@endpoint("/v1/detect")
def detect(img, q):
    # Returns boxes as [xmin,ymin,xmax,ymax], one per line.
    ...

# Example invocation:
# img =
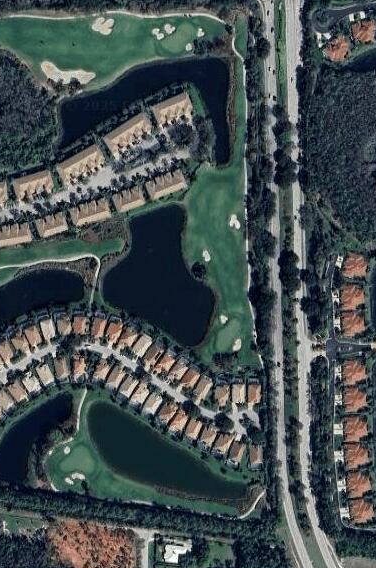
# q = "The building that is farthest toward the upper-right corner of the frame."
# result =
[351,18,375,42]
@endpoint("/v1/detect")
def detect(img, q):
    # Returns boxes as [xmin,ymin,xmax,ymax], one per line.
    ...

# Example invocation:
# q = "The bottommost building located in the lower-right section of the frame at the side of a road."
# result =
[350,496,375,523]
